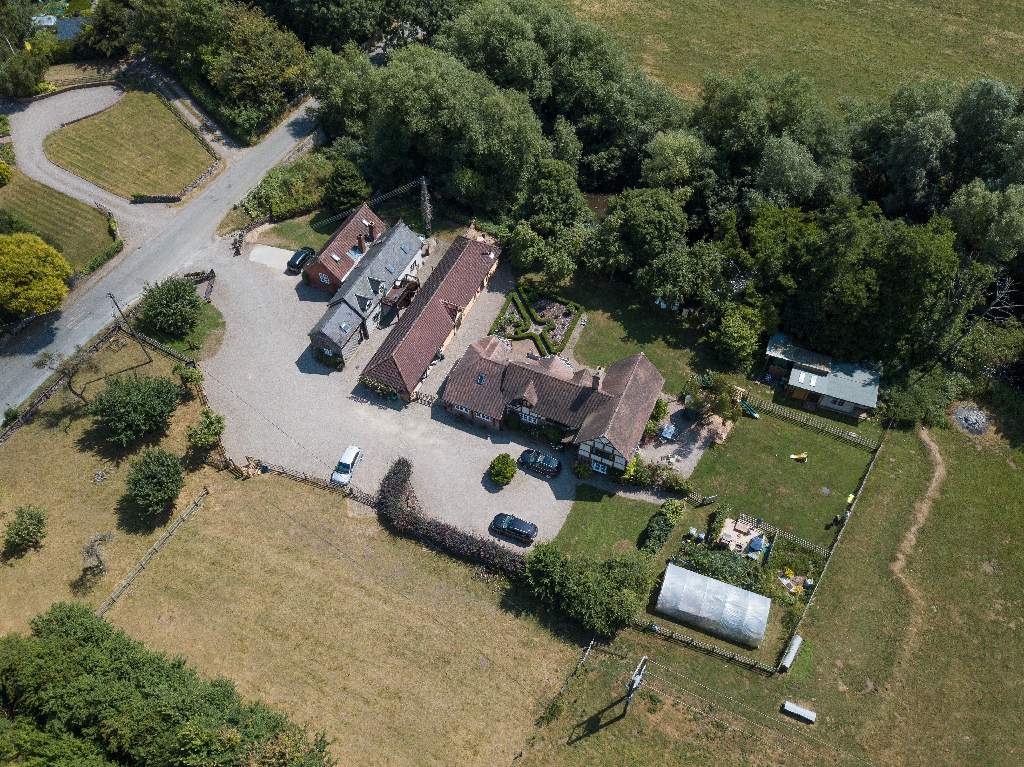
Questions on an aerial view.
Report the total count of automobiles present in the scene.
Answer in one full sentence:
Looking from above, you can make out 4 automobiles.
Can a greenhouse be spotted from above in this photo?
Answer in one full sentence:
Yes, the image includes a greenhouse.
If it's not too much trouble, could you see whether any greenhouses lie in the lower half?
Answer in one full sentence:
Yes, I can see a greenhouse in the lower half.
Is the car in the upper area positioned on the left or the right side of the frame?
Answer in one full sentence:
You can find the car in the upper area on the left side of the picture.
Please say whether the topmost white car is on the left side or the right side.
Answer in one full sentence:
The topmost white car is on the left side of the image.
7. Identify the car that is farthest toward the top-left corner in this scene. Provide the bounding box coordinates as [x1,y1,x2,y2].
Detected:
[286,248,315,271]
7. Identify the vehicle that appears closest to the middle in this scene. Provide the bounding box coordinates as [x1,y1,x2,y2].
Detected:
[518,447,562,475]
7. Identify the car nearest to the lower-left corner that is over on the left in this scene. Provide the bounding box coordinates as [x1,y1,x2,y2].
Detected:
[332,446,365,484]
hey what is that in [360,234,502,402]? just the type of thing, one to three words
barn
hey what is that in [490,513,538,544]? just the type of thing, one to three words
car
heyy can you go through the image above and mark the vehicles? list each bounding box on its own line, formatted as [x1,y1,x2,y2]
[518,447,562,475]
[490,513,538,544]
[286,248,315,271]
[332,446,365,484]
